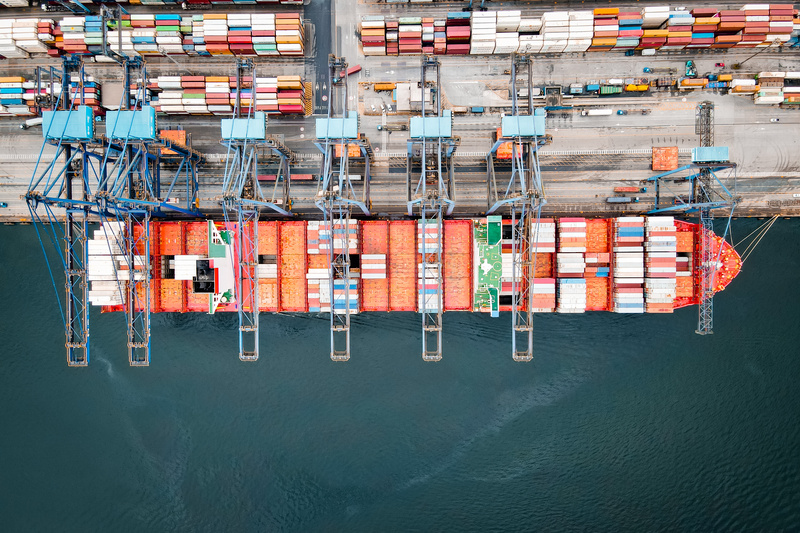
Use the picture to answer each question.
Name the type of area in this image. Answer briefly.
port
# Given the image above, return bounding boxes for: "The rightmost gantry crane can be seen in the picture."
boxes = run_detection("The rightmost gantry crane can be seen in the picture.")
[639,96,752,334]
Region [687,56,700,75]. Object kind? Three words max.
vehicle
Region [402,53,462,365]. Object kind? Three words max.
container crane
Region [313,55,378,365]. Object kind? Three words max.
container crane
